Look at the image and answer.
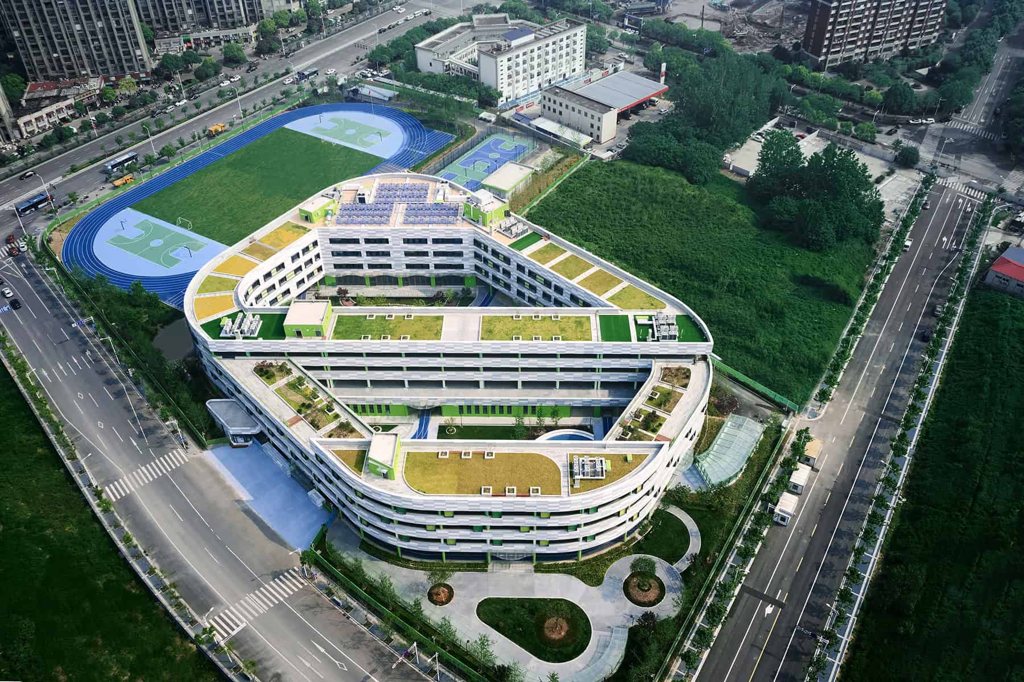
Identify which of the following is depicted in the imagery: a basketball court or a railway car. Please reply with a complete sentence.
Of the two, only a basketball court appears.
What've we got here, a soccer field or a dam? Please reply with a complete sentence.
There is a soccer field in the scene.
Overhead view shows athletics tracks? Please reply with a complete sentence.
Yes, this view includes an athletics track.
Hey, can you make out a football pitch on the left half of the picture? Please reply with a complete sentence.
Yes, a football pitch can be seen on the left half of the picture.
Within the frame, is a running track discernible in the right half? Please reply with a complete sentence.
No, looking in the right half, there is no running track.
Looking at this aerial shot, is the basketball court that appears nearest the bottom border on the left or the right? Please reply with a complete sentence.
The basketball court that appears nearest the bottom border sits on the left side.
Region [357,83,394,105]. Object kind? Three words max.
shed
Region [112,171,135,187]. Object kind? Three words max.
vehicle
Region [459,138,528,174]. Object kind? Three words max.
basketball court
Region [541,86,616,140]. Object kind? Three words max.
building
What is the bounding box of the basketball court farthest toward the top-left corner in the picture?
[106,219,208,269]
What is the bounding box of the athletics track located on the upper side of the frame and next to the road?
[66,104,453,316]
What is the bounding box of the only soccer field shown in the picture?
[131,126,386,247]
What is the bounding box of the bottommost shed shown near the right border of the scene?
[984,255,1024,298]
